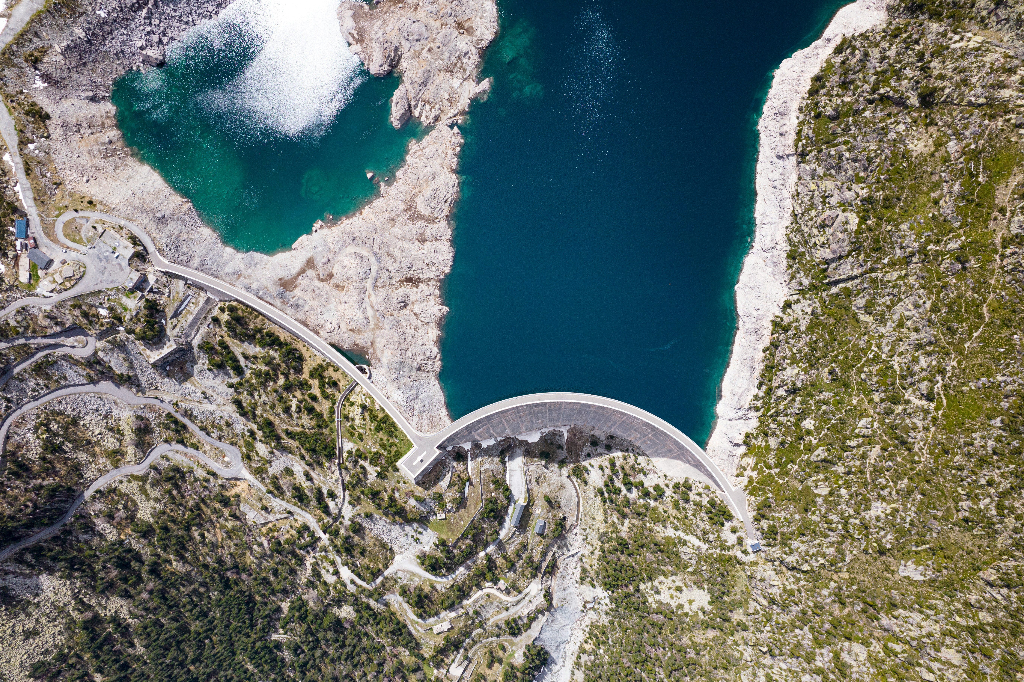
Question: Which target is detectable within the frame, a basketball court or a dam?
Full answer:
The one in the frame is a dam.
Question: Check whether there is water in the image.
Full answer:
Yes, the picture does contain water.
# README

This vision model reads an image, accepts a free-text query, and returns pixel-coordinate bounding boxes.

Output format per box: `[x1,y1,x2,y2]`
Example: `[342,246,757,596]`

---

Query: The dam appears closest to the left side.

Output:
[154,248,432,448]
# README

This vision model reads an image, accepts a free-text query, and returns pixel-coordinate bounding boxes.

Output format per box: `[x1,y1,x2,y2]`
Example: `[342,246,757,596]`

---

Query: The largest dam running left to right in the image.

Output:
[430,390,745,521]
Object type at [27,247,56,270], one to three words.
house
